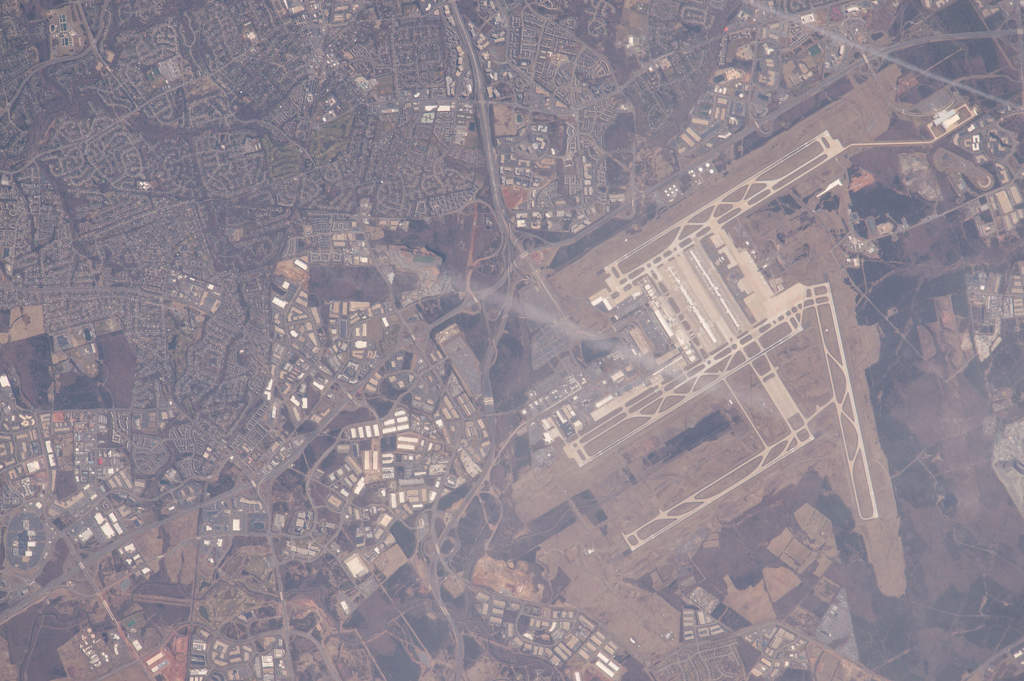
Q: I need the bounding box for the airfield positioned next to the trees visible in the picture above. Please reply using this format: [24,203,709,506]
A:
[544,129,937,556]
